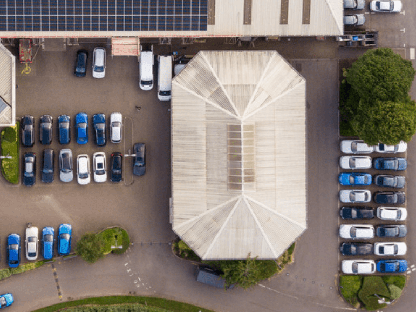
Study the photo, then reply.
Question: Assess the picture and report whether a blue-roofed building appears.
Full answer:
No, there's no blue-roofed building here.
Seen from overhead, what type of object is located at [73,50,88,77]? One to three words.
car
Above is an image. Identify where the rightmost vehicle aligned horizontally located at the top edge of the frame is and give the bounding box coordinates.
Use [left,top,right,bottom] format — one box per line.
[369,0,402,13]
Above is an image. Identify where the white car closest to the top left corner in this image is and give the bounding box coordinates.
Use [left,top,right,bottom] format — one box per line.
[91,47,106,79]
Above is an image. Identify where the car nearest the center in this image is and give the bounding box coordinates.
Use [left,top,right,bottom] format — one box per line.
[132,143,147,176]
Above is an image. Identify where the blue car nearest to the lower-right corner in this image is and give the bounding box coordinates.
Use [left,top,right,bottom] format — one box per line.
[375,258,407,275]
